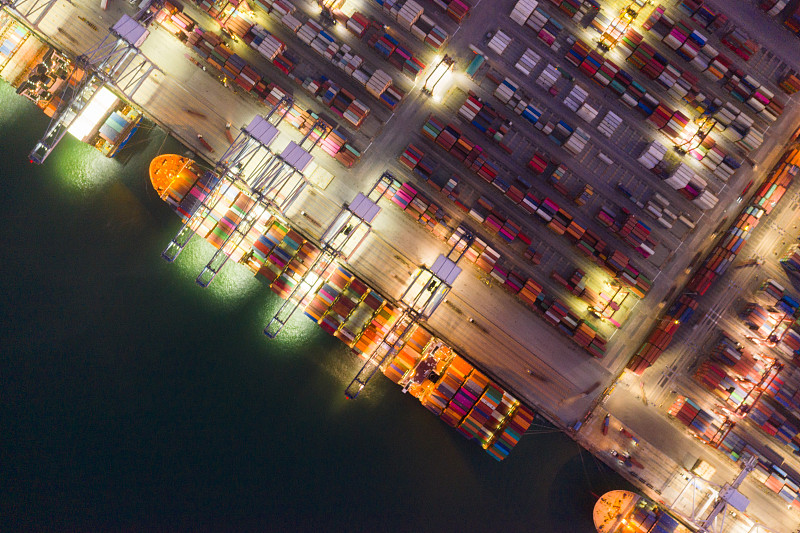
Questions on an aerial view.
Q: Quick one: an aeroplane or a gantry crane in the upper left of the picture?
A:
gantry crane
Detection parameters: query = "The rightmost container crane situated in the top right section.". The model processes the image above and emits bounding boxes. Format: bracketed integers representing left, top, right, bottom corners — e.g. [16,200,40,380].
[668,112,718,157]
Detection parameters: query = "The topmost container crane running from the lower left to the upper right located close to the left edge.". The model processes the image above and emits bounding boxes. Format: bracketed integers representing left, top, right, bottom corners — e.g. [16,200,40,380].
[28,0,173,165]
